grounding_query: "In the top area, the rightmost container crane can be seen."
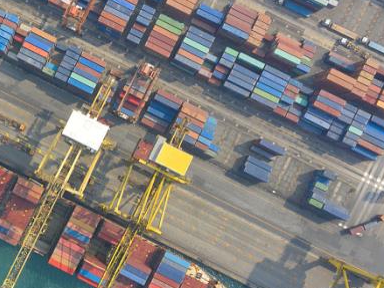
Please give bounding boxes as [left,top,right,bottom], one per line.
[106,61,160,127]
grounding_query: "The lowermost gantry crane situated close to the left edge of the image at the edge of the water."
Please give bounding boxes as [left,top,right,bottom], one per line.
[1,79,119,288]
